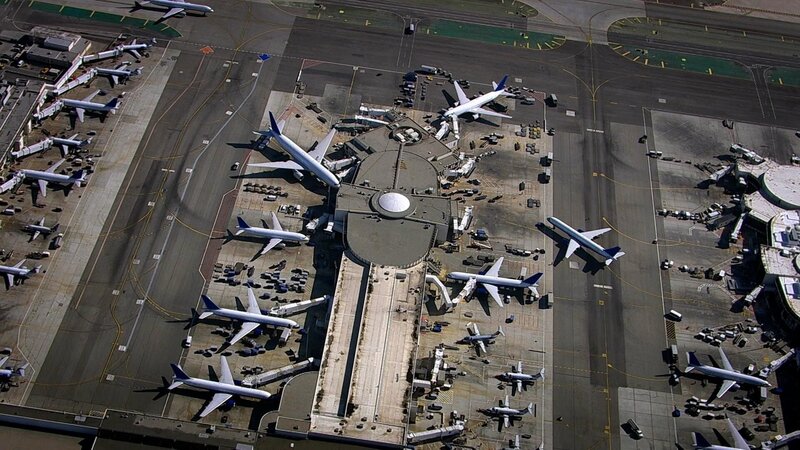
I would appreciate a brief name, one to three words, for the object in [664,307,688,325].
vehicle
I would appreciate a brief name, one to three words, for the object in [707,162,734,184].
jet bridge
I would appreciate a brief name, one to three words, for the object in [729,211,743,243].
jet bridge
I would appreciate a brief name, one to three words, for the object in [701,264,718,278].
work vehicle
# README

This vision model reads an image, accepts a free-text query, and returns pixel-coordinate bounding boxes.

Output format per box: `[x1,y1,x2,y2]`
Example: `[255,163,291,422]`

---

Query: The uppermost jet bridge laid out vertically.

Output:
[448,113,462,141]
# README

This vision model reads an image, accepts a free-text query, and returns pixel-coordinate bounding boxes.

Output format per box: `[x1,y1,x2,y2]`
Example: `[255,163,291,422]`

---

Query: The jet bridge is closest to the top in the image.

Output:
[79,48,121,69]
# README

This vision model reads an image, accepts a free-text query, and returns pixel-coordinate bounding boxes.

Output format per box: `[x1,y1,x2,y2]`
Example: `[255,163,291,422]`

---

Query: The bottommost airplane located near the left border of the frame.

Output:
[0,354,27,378]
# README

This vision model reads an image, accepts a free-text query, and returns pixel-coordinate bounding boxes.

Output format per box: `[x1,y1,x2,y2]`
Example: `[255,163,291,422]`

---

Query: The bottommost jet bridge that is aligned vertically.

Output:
[428,351,443,388]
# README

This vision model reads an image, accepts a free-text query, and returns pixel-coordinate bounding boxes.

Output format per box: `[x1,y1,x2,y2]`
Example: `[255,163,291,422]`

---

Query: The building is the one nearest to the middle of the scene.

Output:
[259,116,461,450]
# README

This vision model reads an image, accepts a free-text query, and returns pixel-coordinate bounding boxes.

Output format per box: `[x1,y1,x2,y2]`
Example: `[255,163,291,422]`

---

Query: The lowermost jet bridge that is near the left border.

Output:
[0,171,25,194]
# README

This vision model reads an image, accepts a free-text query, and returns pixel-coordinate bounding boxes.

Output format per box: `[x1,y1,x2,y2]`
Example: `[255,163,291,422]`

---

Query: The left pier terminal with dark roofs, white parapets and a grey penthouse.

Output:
[0,20,94,175]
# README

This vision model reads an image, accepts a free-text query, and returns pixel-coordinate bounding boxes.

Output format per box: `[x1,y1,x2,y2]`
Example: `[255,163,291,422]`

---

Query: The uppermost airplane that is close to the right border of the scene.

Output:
[683,345,771,398]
